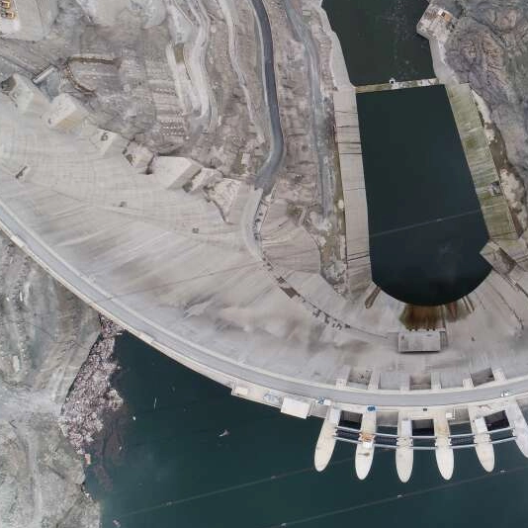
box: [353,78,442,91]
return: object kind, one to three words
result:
dam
